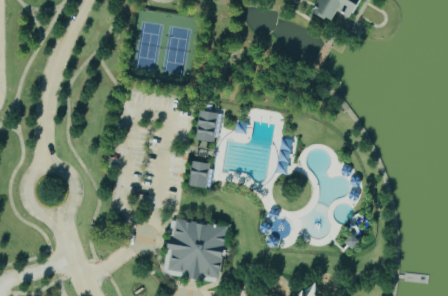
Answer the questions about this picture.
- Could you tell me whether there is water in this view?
Yes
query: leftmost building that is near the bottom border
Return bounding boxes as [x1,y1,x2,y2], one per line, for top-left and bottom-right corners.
[164,220,229,282]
